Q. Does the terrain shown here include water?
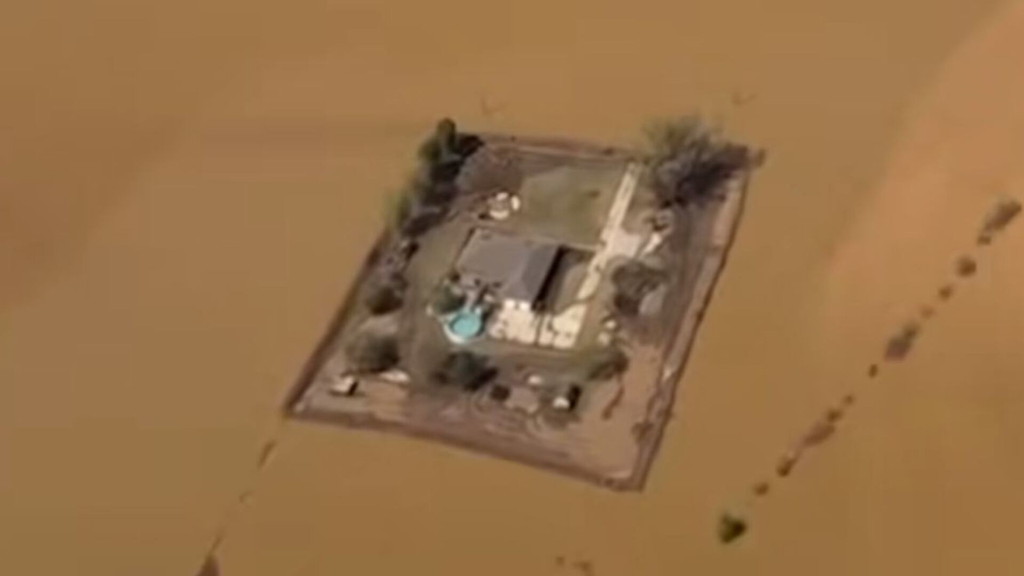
Yes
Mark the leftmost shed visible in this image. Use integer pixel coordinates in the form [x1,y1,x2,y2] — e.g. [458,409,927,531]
[333,373,357,396]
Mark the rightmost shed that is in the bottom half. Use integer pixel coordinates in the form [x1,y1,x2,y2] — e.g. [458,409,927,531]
[554,376,579,411]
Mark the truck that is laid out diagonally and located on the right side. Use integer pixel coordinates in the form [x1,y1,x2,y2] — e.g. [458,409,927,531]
[644,231,665,252]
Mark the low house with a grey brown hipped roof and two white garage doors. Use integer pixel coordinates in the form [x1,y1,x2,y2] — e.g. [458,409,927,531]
[457,230,559,312]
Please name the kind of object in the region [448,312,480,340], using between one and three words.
swimming pool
